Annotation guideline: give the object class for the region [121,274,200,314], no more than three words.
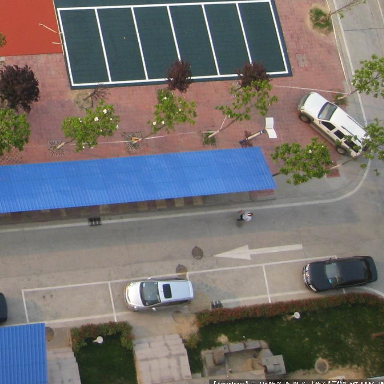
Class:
car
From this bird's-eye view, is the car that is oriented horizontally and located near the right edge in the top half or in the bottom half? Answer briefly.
bottom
